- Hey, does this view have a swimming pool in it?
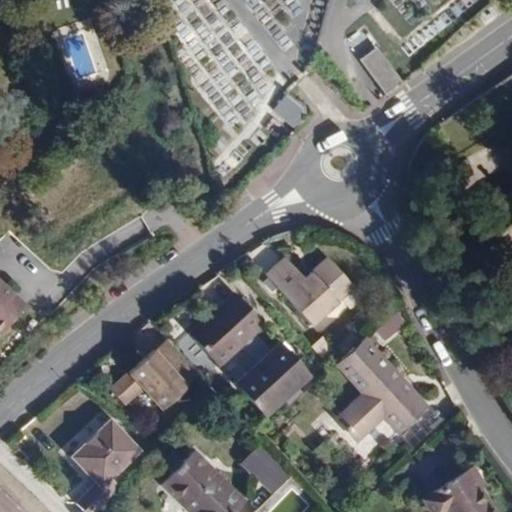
Yes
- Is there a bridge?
No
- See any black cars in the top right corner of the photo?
No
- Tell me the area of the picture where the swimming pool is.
top left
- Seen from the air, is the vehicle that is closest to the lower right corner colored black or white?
white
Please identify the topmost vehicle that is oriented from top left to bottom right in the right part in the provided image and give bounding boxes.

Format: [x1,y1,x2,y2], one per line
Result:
[415,310,433,332]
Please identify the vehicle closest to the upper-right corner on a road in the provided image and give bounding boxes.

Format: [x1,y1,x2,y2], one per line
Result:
[384,99,410,118]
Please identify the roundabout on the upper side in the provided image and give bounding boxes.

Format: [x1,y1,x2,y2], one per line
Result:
[321,146,358,182]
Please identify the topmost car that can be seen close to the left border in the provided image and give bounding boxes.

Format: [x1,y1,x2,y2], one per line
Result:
[20,255,40,274]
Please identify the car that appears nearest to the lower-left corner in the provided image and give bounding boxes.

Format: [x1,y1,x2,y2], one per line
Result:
[34,428,54,448]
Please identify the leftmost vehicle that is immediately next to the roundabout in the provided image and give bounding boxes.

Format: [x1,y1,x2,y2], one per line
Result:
[318,130,350,154]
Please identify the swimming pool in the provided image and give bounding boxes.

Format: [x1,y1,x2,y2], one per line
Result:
[62,29,109,82]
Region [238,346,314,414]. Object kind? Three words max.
house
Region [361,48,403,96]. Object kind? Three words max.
building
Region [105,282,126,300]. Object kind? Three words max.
car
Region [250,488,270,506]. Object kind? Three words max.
car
